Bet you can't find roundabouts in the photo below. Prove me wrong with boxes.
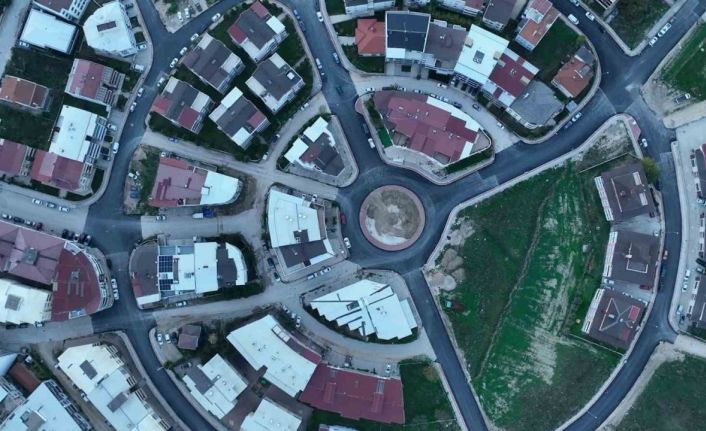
[360,186,425,251]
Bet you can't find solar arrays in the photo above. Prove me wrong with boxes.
[163,279,176,290]
[163,255,176,272]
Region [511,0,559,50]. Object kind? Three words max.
house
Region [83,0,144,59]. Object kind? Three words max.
building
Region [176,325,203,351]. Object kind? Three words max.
shed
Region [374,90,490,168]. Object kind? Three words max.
building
